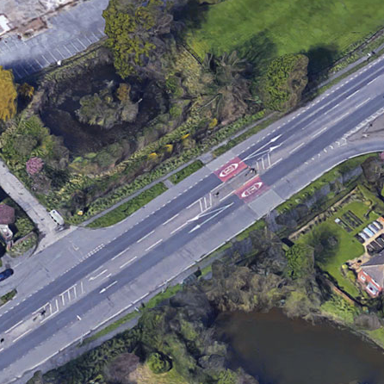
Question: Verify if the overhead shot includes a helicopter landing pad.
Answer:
No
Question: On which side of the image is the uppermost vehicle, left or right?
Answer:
left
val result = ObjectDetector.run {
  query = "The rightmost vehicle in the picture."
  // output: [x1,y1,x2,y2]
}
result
[45,205,67,230]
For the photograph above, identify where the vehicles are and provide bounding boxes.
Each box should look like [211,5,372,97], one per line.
[45,205,67,230]
[0,268,13,282]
